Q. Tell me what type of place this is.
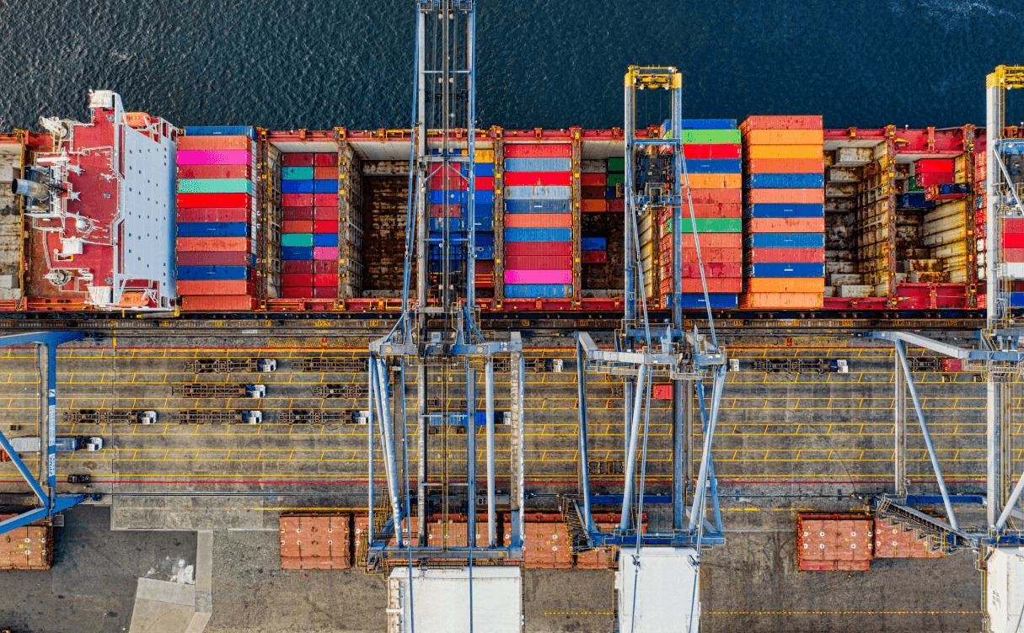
port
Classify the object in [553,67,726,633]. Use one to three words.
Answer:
container crane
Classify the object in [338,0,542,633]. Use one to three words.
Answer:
container crane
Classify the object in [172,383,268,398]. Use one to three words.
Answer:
vehicle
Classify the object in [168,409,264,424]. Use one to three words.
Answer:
vehicle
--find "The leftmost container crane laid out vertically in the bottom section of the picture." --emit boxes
[0,330,89,533]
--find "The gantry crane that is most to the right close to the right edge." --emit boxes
[859,68,1024,633]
